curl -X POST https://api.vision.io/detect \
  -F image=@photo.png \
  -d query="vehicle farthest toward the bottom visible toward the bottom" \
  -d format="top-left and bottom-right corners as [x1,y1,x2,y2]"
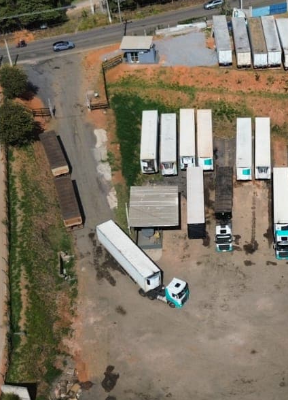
[139,274,187,304]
